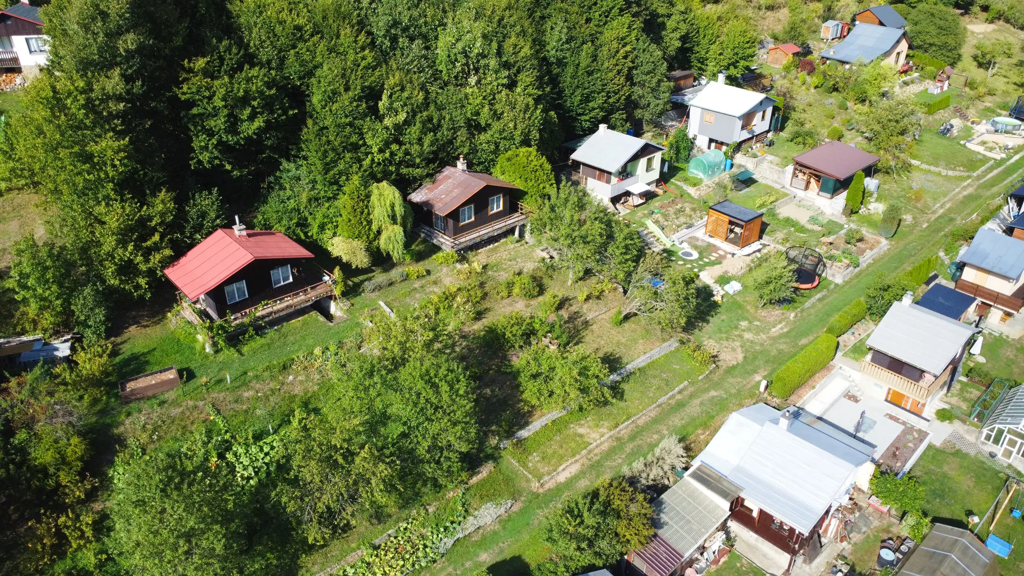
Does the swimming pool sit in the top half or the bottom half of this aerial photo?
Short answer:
top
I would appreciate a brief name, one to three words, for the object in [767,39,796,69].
shed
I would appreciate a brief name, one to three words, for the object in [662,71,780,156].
house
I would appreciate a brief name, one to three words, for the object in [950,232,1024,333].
house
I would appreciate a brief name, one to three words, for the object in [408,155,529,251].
building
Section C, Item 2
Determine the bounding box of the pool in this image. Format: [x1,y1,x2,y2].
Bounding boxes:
[988,117,1024,138]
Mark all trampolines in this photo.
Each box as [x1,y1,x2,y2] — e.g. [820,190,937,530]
[784,244,827,293]
[1007,95,1024,119]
